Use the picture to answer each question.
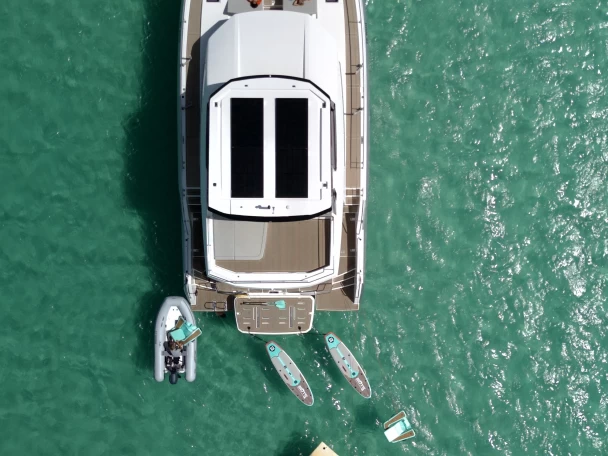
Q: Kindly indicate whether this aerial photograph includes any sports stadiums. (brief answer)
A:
No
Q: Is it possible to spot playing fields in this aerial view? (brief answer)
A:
No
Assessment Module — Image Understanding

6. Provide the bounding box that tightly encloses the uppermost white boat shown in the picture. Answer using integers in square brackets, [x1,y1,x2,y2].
[176,0,370,334]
